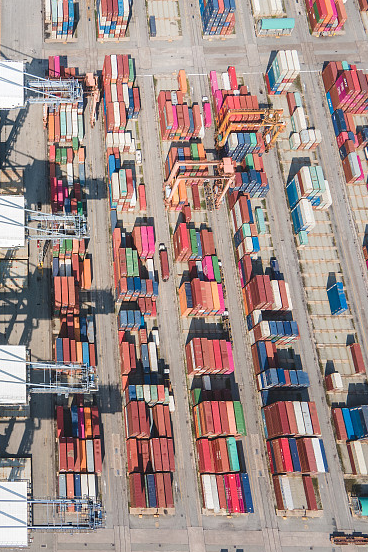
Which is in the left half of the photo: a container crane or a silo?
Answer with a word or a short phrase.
container crane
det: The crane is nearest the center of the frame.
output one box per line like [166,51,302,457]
[163,158,233,205]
